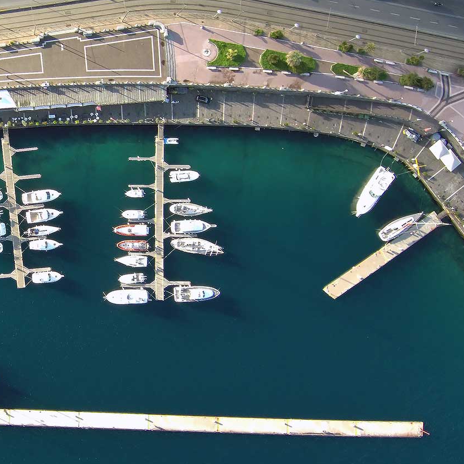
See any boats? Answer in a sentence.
Yes, the frame does contain a boat.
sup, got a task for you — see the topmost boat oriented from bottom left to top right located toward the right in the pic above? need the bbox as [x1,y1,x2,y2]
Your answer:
[356,165,397,219]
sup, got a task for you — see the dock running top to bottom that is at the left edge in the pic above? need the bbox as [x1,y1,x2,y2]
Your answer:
[0,125,52,288]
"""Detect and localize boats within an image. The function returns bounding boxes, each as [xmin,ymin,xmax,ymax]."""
[115,240,153,250]
[24,208,63,223]
[164,170,200,182]
[380,213,442,242]
[25,239,63,251]
[356,165,397,219]
[168,234,225,256]
[121,189,148,197]
[22,225,63,237]
[166,219,219,234]
[20,189,63,206]
[113,254,154,268]
[118,210,149,219]
[165,201,214,216]
[27,271,64,284]
[164,138,180,144]
[112,223,153,237]
[0,221,9,237]
[169,285,221,302]
[116,273,146,283]
[100,288,154,304]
